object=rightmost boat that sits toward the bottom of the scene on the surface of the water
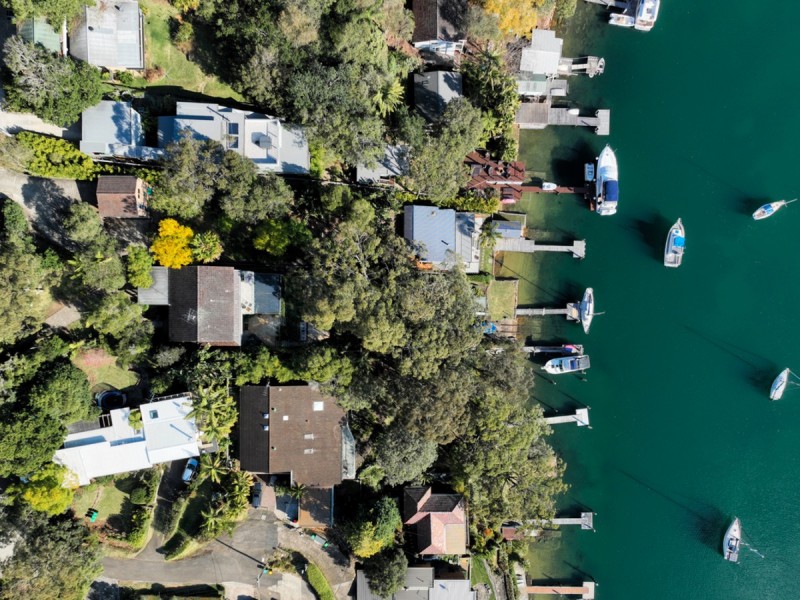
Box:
[767,370,800,401]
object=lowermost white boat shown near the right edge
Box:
[722,518,762,562]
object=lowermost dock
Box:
[526,577,598,600]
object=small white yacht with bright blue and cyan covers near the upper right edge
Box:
[749,202,798,220]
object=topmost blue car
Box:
[183,458,199,482]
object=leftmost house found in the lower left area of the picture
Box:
[53,389,209,487]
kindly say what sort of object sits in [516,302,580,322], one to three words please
pier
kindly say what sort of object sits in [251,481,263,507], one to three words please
vehicle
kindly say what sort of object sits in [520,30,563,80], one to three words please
building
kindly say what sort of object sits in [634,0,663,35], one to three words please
boat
